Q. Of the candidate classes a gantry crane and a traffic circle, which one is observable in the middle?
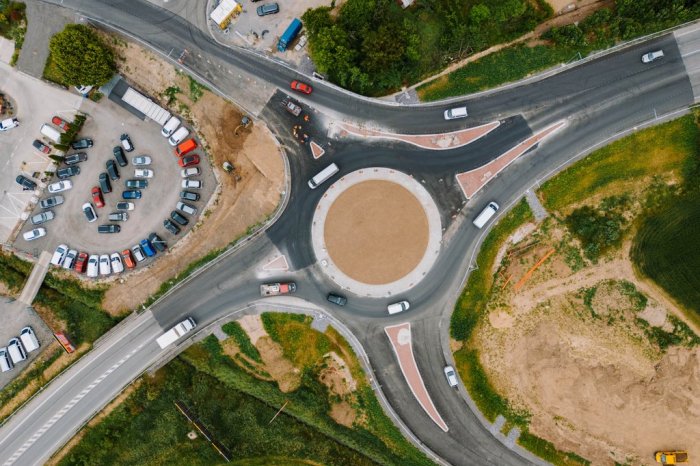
traffic circle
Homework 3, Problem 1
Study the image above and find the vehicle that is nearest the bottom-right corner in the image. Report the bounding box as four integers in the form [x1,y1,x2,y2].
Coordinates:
[652,448,690,465]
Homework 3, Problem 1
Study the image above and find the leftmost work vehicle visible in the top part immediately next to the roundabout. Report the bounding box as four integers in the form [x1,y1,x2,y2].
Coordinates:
[232,115,251,137]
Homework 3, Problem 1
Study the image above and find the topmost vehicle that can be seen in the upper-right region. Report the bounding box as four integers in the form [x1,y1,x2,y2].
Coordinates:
[640,49,666,64]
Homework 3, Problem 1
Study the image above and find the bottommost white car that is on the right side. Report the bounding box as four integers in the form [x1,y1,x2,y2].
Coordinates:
[443,364,461,389]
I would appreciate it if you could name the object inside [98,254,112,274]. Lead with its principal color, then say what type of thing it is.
white vehicle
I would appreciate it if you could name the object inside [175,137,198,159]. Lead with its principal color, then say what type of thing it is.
red vehicle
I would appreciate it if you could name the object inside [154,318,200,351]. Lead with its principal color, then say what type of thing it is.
white truck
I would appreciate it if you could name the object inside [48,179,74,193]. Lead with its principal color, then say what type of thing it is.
white vehicle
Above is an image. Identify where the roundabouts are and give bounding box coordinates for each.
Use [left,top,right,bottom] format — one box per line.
[258,90,533,297]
